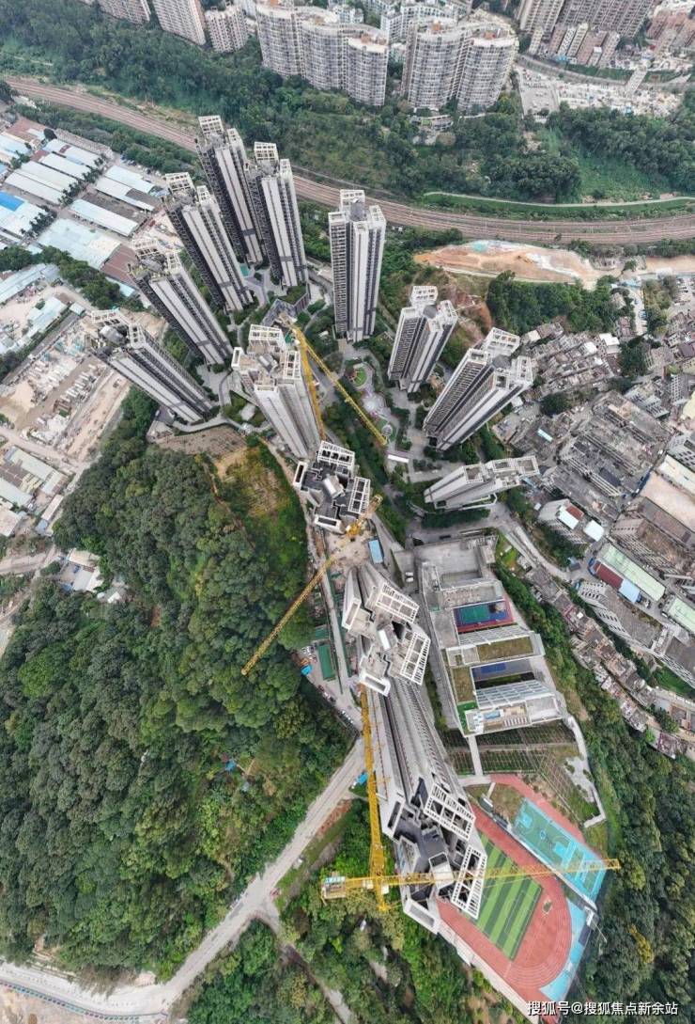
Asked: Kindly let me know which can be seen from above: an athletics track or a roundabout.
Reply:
athletics track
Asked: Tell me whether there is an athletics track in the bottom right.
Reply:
Yes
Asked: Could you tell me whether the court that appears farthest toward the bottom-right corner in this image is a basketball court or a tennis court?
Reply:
basketball court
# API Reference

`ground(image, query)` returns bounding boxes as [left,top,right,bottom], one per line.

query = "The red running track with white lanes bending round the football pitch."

[454,773,577,1005]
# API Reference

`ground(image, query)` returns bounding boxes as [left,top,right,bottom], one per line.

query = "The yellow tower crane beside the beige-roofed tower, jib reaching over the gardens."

[281,305,389,447]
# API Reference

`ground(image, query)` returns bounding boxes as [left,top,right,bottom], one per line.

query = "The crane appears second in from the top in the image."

[242,493,381,675]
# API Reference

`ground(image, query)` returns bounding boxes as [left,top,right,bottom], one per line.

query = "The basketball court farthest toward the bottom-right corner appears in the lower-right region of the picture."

[513,798,606,906]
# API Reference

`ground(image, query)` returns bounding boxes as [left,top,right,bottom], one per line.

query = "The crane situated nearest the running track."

[324,685,622,910]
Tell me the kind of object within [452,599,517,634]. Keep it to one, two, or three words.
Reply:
sports court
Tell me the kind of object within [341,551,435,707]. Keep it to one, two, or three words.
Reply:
building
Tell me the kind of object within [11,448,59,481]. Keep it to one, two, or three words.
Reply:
shed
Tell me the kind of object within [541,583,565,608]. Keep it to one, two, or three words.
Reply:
house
